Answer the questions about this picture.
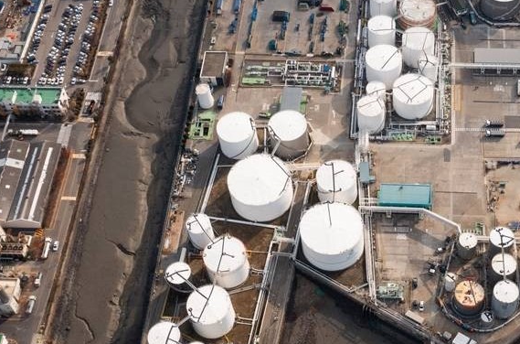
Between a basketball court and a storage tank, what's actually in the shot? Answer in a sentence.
Looking from above, you can make out a storage tank.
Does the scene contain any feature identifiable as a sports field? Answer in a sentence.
No, there's no sports field here.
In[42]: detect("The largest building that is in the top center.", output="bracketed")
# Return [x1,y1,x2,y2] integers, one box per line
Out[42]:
[200,51,229,86]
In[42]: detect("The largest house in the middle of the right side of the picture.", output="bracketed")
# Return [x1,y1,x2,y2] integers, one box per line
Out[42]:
[378,184,431,211]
